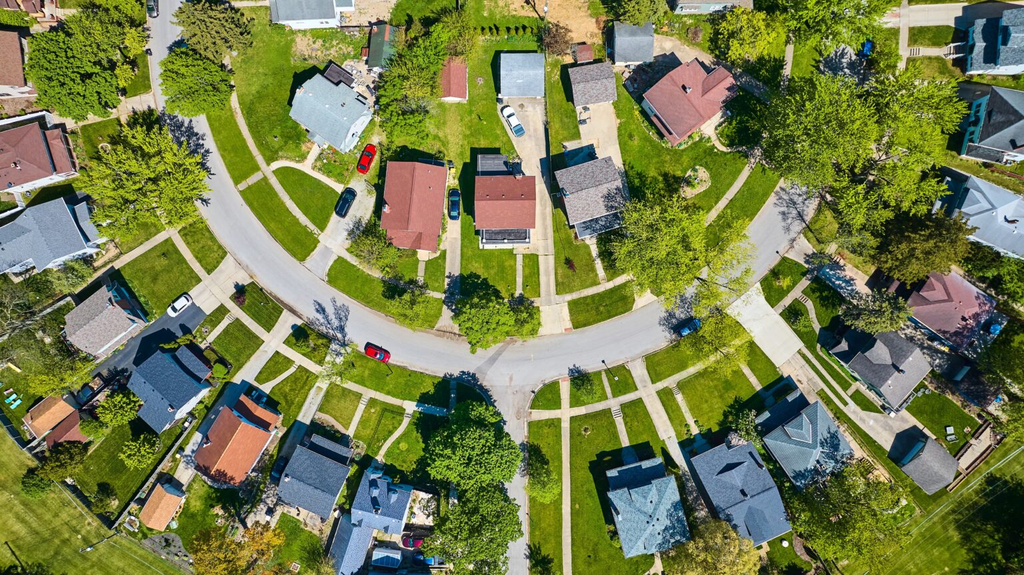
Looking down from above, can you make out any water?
No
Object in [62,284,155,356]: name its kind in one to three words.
house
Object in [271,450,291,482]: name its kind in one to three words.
car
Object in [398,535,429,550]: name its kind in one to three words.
car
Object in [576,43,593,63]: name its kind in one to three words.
shed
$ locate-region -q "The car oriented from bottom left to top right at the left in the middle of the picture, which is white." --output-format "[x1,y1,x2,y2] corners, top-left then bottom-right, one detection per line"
[165,292,195,316]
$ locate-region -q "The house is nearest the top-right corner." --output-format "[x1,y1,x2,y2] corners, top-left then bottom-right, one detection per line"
[941,7,1024,77]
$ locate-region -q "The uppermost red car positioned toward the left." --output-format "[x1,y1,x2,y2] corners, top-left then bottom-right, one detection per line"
[355,144,376,175]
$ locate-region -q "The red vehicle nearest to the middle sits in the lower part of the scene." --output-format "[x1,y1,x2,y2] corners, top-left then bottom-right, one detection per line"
[363,343,392,362]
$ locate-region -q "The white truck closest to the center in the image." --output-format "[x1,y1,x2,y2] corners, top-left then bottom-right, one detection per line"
[500,104,527,139]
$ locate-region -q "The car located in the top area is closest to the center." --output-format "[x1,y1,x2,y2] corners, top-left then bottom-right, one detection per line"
[447,189,461,220]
